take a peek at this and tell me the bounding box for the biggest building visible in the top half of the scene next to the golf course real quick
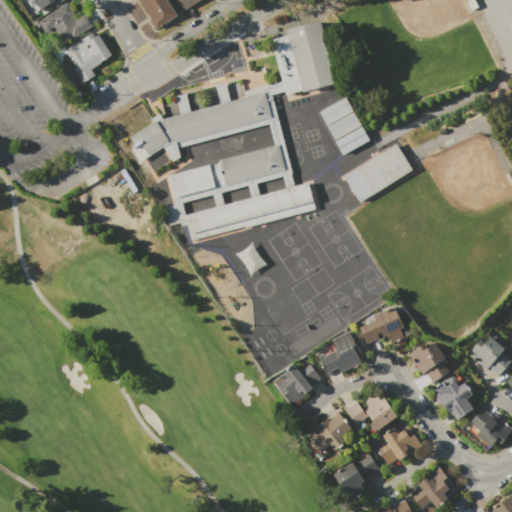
[128,83,316,243]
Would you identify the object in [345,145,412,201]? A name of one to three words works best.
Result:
building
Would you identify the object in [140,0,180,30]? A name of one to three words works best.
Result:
house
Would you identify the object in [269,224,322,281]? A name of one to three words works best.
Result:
basketball court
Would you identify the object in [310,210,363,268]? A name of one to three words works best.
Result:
basketball court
